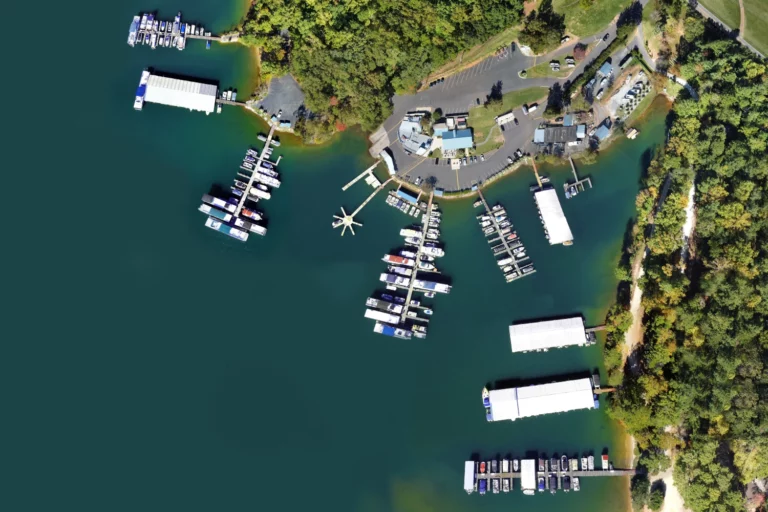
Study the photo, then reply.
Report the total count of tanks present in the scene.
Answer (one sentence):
No tanks are visible.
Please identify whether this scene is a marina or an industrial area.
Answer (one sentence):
This image shows a marina.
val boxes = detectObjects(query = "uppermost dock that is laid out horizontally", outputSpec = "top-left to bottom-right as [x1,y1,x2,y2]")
[135,20,221,48]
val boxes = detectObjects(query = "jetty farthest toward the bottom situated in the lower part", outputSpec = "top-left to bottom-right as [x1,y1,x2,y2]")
[476,462,634,490]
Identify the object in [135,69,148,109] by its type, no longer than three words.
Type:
boat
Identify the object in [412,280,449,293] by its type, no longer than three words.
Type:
boat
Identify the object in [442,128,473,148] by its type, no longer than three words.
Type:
building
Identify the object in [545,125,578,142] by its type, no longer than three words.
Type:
building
